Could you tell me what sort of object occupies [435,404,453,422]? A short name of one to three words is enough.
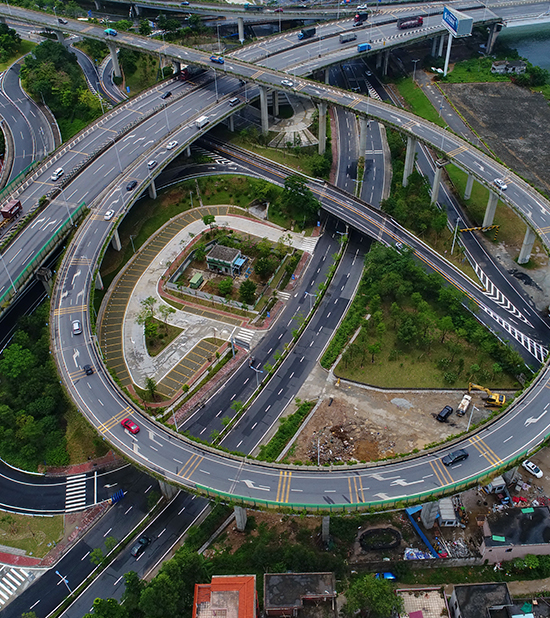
car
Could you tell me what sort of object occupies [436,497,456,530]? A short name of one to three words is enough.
shed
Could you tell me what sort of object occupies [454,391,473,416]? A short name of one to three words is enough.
vehicle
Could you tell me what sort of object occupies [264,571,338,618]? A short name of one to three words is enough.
house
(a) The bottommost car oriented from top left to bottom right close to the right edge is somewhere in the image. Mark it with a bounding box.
[520,460,545,477]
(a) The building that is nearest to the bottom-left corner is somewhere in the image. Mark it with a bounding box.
[192,574,258,618]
